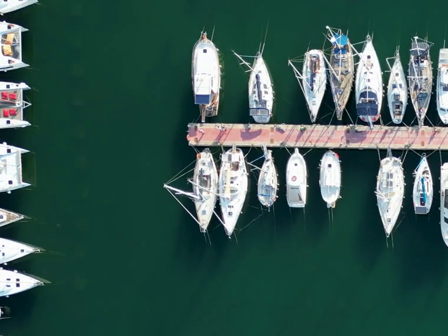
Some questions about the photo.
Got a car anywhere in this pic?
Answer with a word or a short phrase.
No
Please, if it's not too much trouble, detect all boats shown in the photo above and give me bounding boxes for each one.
[411,147,435,230]
[375,151,406,242]
[386,41,408,130]
[323,22,356,128]
[319,146,345,218]
[0,143,38,195]
[438,161,448,242]
[0,0,42,17]
[293,33,329,131]
[406,35,435,132]
[0,269,61,297]
[0,21,52,77]
[253,146,281,215]
[193,141,251,246]
[0,238,42,264]
[0,207,34,230]
[434,44,448,130]
[171,143,220,244]
[191,27,222,123]
[353,26,385,129]
[0,80,49,133]
[283,147,309,216]
[240,44,274,131]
